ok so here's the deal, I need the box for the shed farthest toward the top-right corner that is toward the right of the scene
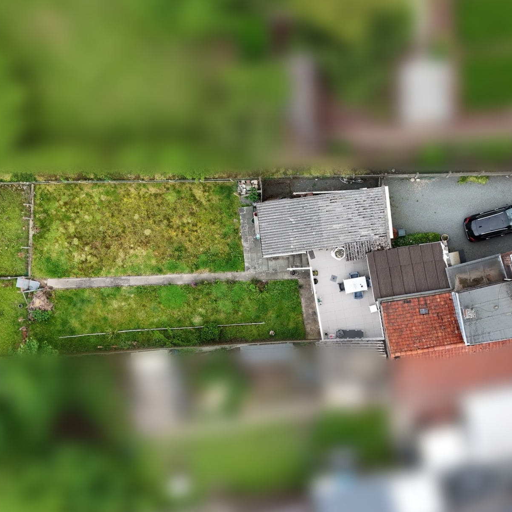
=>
[399,63,451,129]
